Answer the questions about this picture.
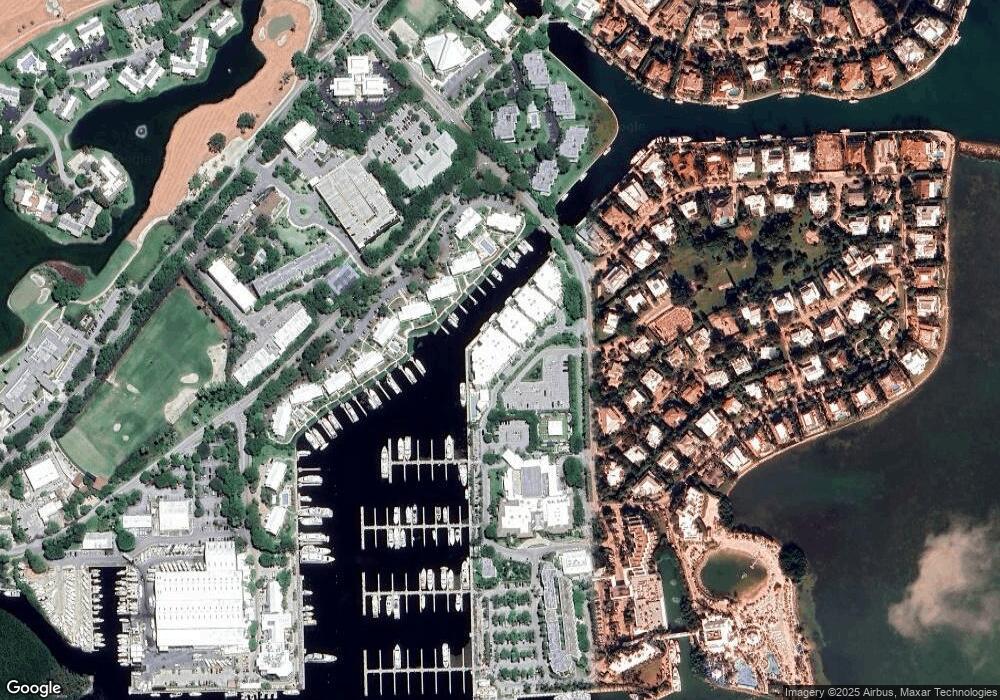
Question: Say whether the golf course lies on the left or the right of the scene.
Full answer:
The golf course appears in the left half of the scene.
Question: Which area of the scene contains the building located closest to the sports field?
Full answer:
The building located closest to the sports field appears toward the top of the photo.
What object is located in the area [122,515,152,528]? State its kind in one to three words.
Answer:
shed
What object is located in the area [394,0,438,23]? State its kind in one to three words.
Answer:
sports field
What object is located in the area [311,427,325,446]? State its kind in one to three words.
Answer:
boat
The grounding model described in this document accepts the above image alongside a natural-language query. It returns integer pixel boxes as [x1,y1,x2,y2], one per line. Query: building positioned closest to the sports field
[386,17,419,49]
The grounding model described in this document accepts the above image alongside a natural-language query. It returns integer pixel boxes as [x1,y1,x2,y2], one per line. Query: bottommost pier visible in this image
[364,648,475,696]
